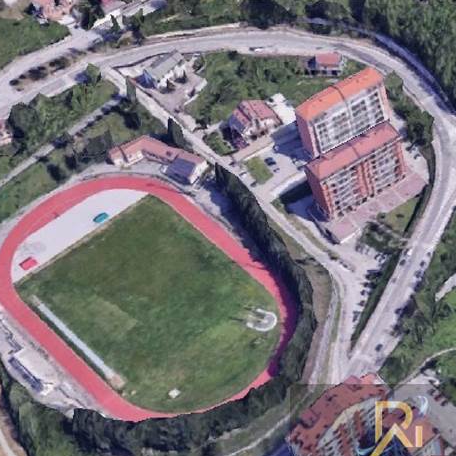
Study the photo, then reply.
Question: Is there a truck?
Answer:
No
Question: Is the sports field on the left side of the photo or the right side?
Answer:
left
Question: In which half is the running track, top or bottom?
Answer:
bottom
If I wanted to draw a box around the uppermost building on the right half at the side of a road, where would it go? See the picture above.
[316,52,346,73]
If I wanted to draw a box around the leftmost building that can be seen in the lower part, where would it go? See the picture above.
[277,366,388,456]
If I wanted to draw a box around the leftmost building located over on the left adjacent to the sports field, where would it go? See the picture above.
[106,138,144,170]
